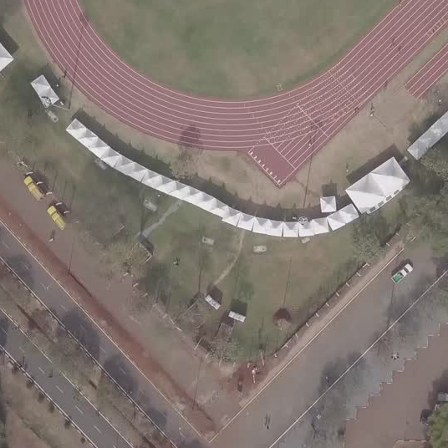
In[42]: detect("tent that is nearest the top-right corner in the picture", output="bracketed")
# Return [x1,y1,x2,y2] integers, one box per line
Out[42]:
[346,157,406,213]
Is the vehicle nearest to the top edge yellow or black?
yellow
